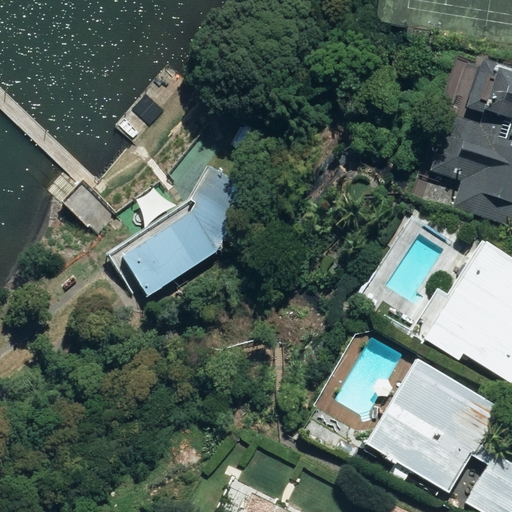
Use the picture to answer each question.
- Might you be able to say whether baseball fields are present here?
No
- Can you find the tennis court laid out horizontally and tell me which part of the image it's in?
top right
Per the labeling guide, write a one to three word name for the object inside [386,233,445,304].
swimming pool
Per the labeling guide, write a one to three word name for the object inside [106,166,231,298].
house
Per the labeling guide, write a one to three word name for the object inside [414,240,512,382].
house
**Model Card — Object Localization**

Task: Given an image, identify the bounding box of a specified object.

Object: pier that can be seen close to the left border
[0,85,97,184]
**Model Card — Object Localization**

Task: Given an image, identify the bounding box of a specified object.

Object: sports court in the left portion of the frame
[171,137,214,200]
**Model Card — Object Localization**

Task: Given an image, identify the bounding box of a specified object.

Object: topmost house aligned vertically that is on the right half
[431,54,512,226]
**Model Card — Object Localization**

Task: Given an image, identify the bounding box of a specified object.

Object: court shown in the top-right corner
[379,0,512,41]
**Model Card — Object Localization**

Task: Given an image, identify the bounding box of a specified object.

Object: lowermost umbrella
[374,380,394,397]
